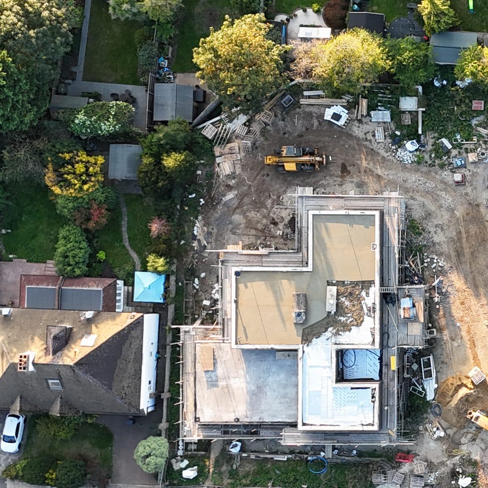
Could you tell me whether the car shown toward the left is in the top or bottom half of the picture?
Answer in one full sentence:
It is in the bottom half that the car shown toward the left appears.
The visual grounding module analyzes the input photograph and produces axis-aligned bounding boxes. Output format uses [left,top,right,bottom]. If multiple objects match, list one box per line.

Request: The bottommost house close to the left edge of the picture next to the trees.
[0,306,157,416]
